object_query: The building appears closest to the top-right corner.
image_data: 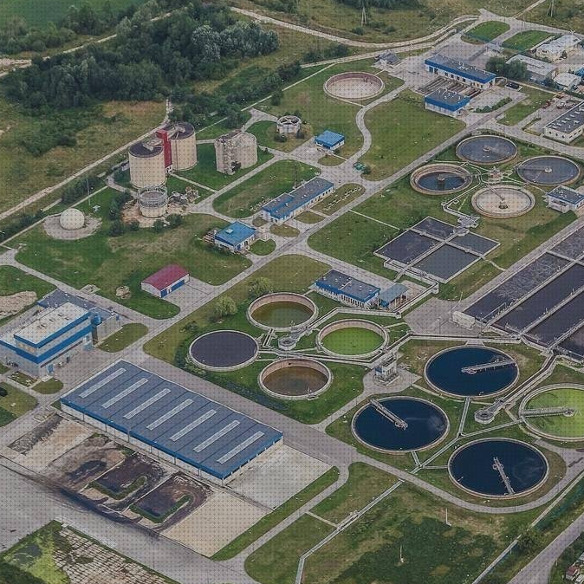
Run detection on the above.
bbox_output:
[531,35,582,64]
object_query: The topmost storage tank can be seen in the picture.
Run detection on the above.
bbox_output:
[323,74,385,102]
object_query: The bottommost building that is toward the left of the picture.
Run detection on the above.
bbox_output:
[68,356,285,488]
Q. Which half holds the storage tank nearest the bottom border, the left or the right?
right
